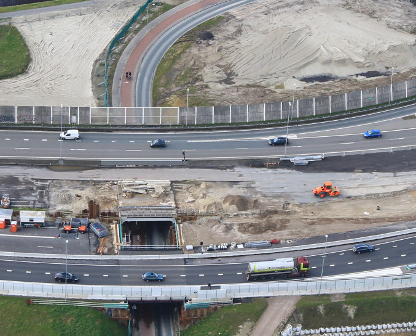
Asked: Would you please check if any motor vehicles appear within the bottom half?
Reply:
Yes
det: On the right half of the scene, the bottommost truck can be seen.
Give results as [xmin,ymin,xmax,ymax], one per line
[247,257,311,282]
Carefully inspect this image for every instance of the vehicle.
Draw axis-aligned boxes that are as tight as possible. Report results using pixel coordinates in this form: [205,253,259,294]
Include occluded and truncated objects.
[247,257,311,282]
[268,136,289,145]
[351,242,374,254]
[141,272,164,282]
[55,272,78,282]
[362,128,382,138]
[59,128,80,139]
[148,138,166,147]
[312,183,340,199]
